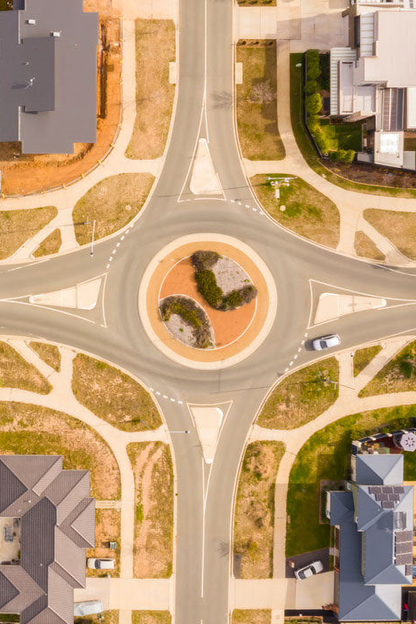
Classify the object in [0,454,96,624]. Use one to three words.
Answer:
house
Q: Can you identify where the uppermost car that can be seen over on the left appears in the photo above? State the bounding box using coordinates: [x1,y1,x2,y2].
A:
[86,556,115,572]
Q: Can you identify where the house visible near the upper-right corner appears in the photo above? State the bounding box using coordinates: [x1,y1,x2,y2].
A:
[319,0,416,170]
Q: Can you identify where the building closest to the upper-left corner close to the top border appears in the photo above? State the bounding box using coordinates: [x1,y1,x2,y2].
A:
[0,0,97,157]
